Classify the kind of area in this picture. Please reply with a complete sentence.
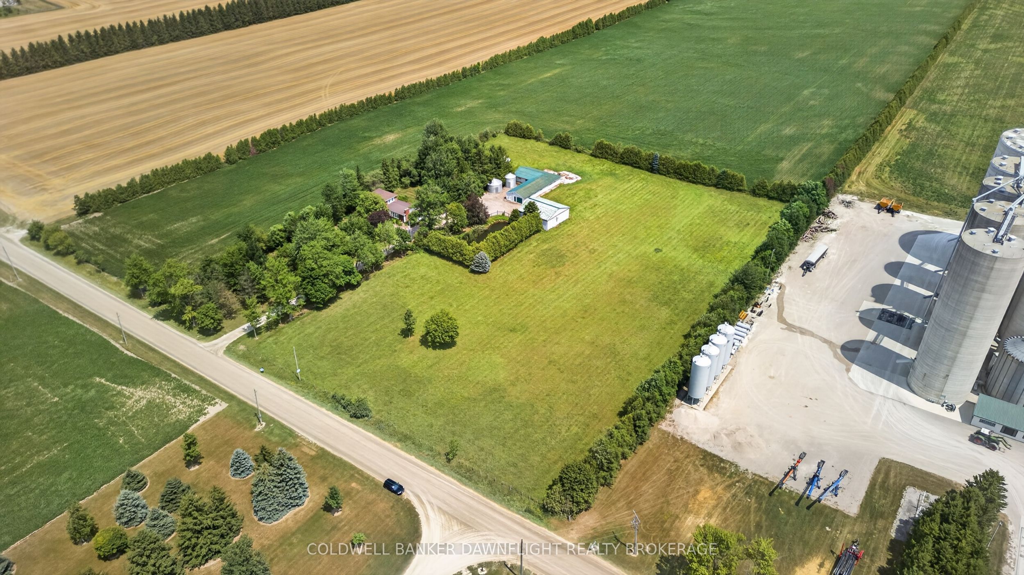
What you see here is an industrial area.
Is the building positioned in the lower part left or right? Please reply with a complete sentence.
The building positioned in the lower part is on the right side of the image.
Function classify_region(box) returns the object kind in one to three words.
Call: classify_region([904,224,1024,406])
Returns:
silo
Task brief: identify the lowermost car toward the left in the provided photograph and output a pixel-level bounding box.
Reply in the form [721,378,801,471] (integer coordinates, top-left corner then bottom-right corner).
[384,472,409,492]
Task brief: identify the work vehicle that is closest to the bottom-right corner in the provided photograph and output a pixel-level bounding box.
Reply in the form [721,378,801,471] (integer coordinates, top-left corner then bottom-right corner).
[966,427,1010,454]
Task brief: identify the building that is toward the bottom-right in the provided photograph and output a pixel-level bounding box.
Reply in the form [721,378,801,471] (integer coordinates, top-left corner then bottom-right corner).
[970,393,1024,444]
